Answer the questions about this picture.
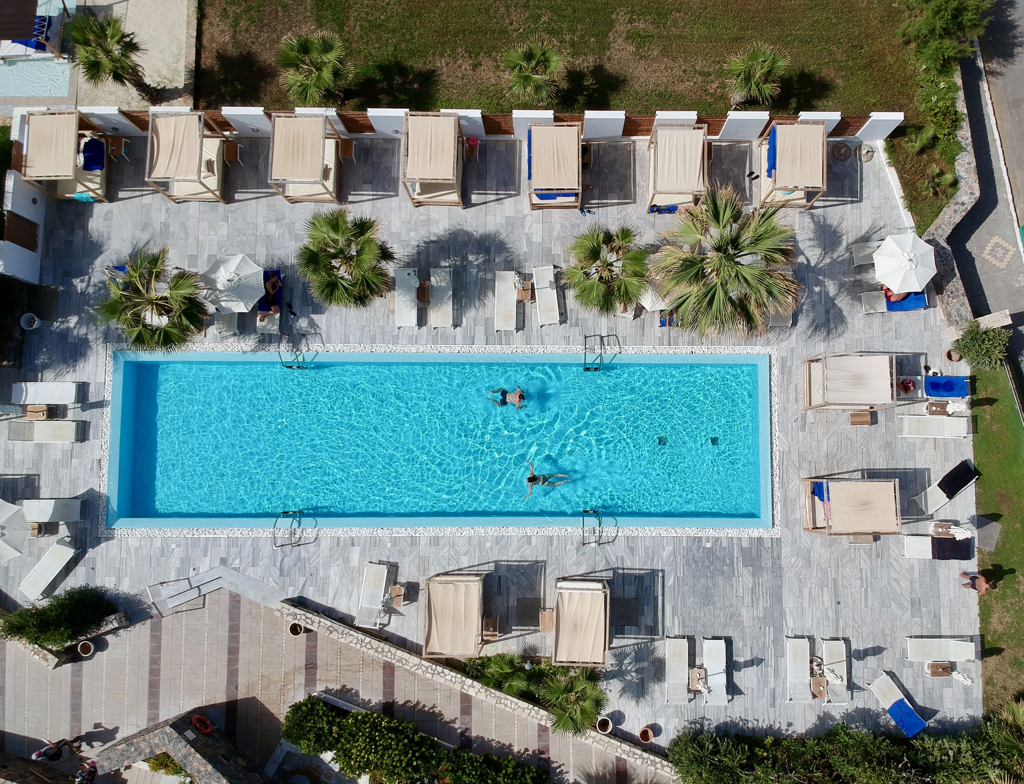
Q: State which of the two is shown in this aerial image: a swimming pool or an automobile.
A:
swimming pool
